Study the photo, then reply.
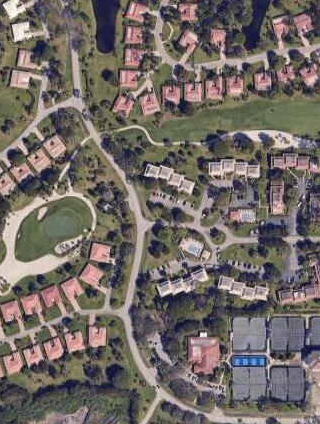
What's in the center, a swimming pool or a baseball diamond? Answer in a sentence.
It is a swimming pool that can be seen in the center.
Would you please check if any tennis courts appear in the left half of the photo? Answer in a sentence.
No, no tennis court can be made out in the left half of the photo.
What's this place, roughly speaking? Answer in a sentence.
The picture captures a residential area.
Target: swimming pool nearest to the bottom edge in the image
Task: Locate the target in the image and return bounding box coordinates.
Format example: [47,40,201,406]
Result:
[179,234,205,259]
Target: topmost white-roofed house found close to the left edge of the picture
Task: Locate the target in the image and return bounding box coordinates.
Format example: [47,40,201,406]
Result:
[2,0,26,20]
